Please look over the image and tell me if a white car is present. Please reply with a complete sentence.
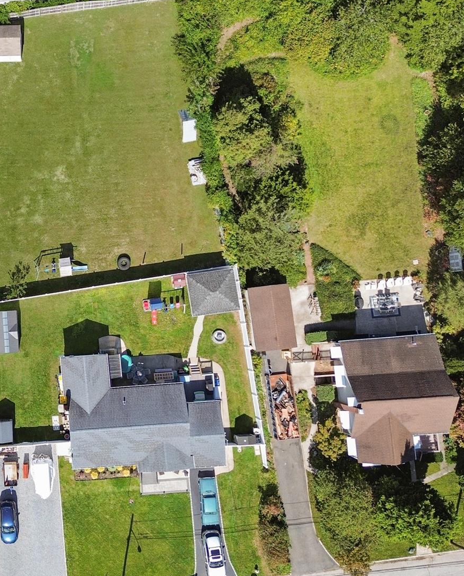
Yes, there's a white car down there.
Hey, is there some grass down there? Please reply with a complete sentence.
Yes, the picture does contain grass.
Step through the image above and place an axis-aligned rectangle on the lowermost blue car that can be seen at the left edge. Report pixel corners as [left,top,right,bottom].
[0,498,19,542]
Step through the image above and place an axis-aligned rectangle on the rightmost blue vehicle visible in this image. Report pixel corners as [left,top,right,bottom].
[198,474,221,525]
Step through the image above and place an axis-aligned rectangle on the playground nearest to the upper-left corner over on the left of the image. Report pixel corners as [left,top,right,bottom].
[37,256,88,278]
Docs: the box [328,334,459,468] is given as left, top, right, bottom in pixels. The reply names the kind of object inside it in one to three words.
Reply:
house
